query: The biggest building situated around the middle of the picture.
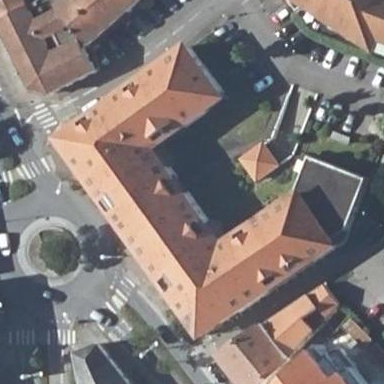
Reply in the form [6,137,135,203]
[48,41,337,341]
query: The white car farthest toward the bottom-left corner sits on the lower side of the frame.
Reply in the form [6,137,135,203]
[92,311,112,326]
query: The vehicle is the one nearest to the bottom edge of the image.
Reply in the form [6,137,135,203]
[158,324,178,344]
